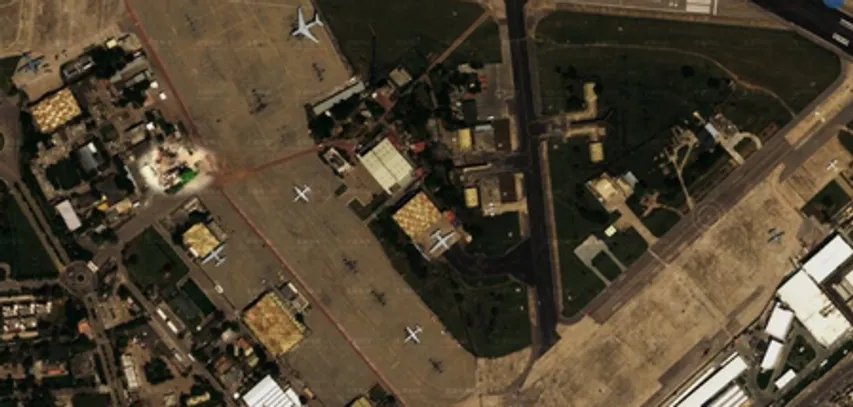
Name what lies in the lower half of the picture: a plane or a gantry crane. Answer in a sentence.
The one visible in the lower half of the picture is a plane.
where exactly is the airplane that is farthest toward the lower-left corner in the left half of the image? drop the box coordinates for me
[202,245,227,268]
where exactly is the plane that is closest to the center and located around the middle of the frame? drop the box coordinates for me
[428,228,457,252]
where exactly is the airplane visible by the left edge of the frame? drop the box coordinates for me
[17,51,44,73]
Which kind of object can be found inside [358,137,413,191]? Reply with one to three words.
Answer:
hangar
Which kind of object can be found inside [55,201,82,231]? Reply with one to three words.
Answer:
building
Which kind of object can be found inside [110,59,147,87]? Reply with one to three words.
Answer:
shed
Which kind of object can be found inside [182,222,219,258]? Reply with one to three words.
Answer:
hangar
